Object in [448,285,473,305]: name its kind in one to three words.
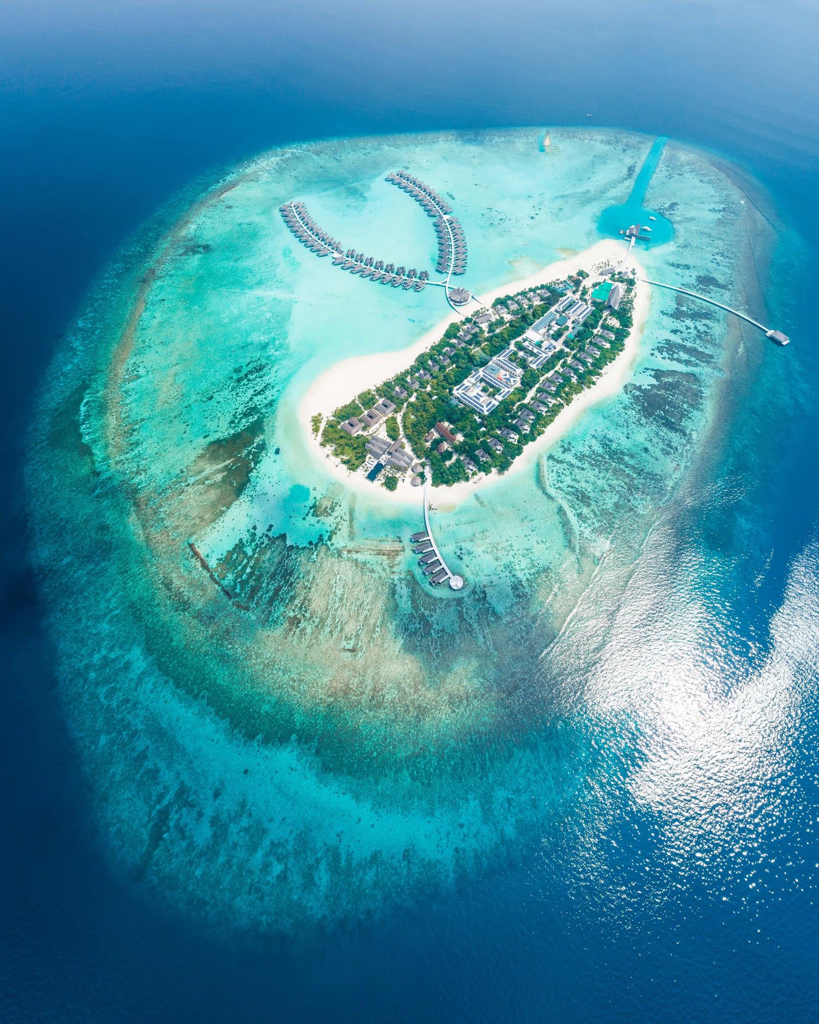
building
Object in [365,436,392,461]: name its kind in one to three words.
building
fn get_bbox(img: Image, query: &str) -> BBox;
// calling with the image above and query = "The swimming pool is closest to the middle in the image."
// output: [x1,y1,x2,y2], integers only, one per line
[364,460,386,484]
